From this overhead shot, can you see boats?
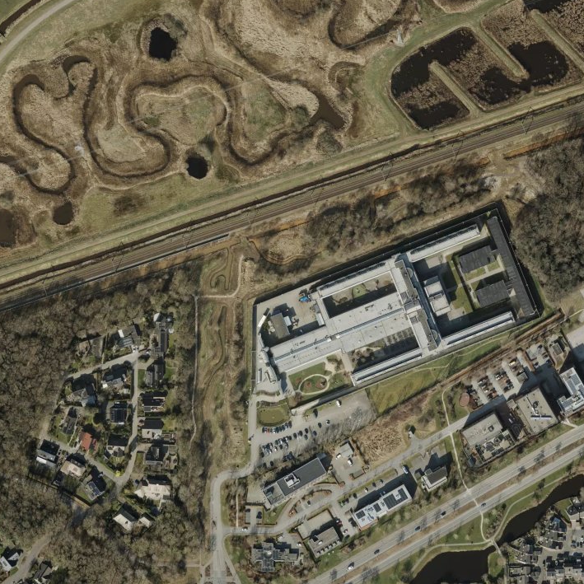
No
